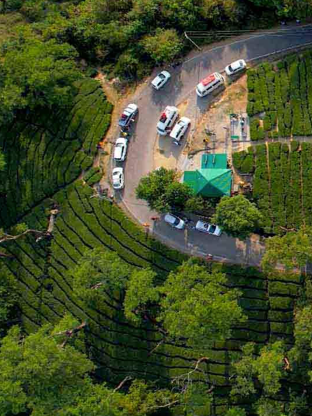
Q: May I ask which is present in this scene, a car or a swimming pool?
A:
car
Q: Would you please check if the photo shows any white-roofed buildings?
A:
No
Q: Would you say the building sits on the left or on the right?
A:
right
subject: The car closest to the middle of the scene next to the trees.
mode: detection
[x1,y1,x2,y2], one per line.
[162,213,187,231]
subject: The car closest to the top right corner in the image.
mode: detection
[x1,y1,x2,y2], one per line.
[224,59,247,77]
